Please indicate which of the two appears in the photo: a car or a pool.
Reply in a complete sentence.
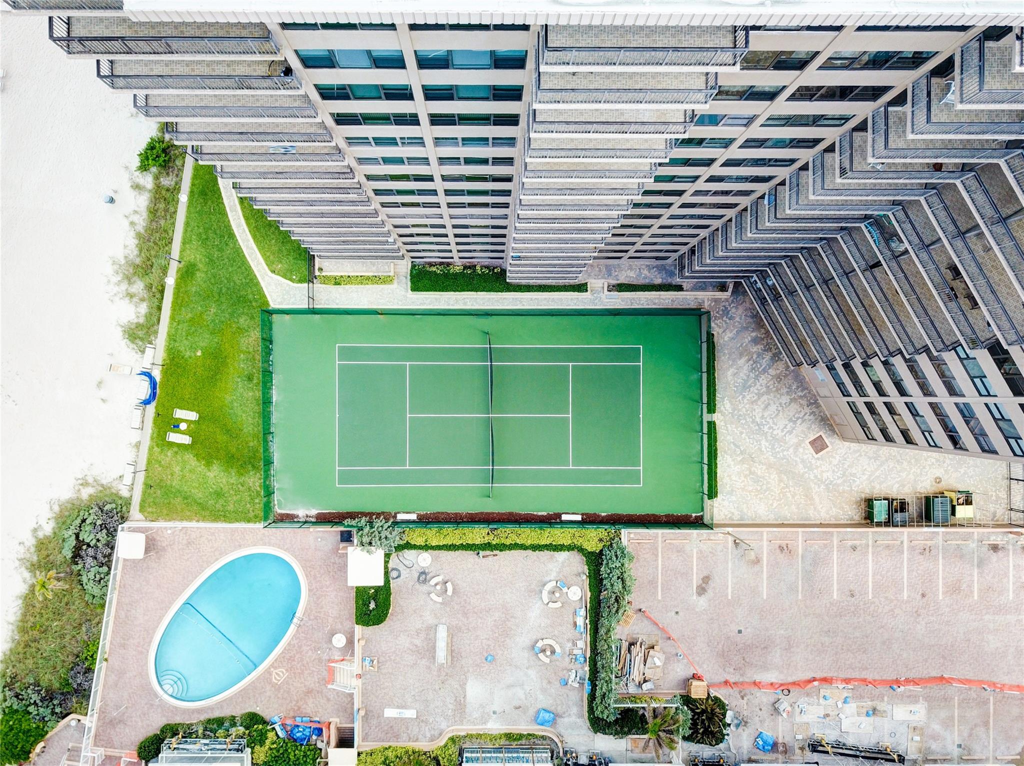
The image shows a pool.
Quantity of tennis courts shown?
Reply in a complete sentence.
I count just 1 tennis court.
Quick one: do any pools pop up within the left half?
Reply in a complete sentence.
Yes, a pool is visible within the left half.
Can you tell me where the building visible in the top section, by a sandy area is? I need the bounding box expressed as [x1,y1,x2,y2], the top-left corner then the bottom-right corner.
[0,0,1024,467]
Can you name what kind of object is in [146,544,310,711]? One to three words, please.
swimming pool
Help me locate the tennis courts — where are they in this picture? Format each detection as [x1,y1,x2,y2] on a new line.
[273,315,704,513]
